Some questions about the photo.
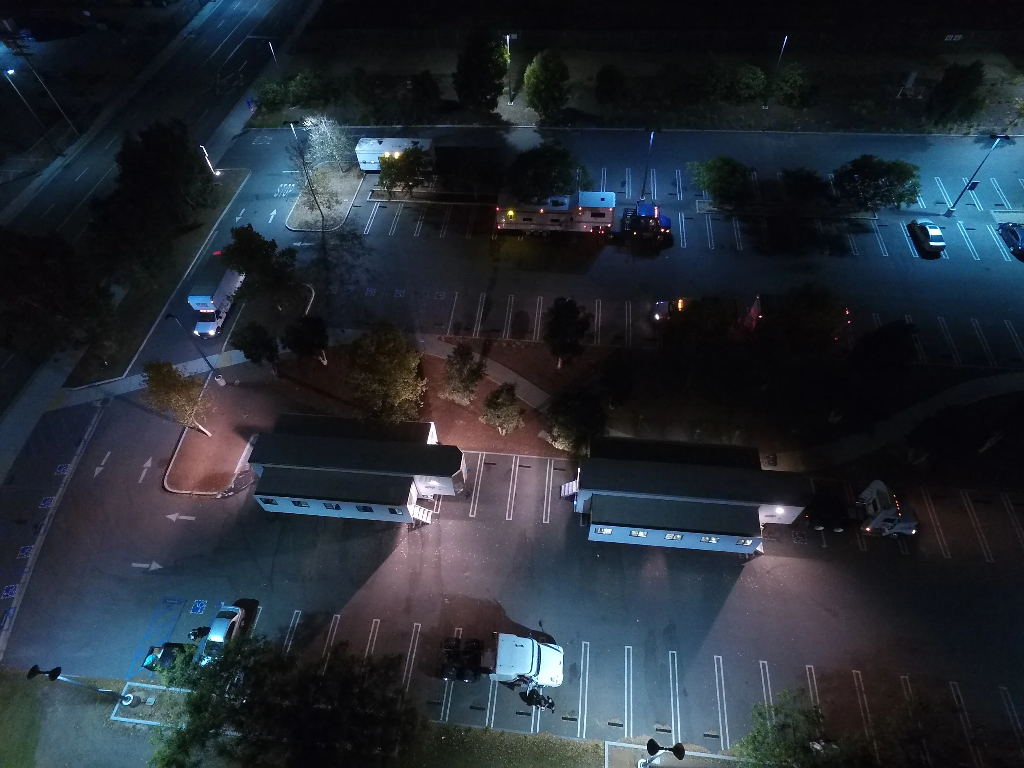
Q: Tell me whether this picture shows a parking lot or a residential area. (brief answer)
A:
parking lot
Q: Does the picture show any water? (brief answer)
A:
No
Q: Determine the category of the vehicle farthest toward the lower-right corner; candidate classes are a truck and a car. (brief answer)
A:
truck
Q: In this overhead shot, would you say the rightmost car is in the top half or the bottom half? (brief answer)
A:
top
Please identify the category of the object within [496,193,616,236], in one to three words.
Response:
trailer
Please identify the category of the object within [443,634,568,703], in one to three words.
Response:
truck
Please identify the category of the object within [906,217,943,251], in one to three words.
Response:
car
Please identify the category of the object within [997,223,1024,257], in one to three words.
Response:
car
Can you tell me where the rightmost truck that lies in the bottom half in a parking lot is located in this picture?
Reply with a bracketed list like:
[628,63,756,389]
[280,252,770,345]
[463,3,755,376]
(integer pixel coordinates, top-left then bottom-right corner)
[797,483,917,537]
